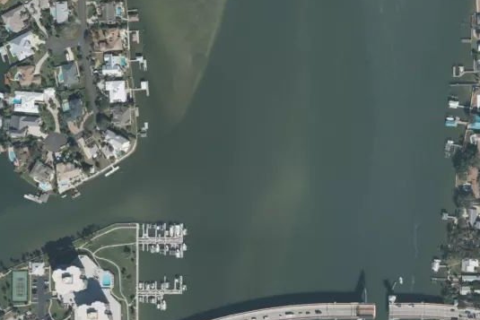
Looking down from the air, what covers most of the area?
water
